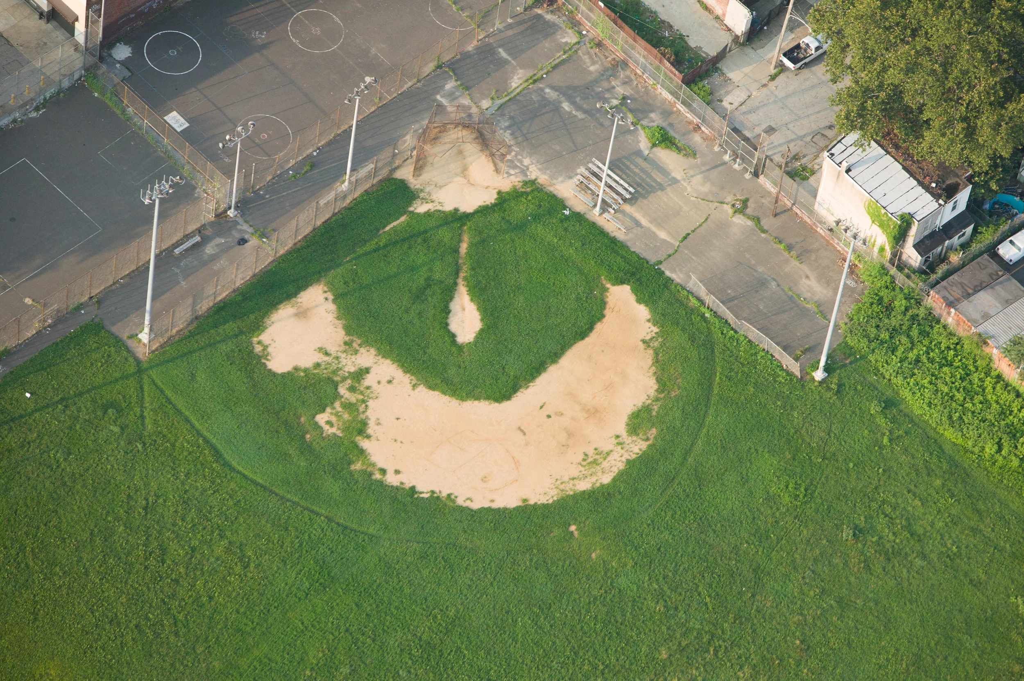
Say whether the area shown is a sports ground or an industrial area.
sports ground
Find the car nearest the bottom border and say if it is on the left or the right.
right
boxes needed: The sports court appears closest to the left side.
[0,80,226,355]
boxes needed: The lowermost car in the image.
[998,231,1024,265]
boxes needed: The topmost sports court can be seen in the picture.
[111,0,539,206]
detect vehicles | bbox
[998,231,1024,265]
[779,30,822,71]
